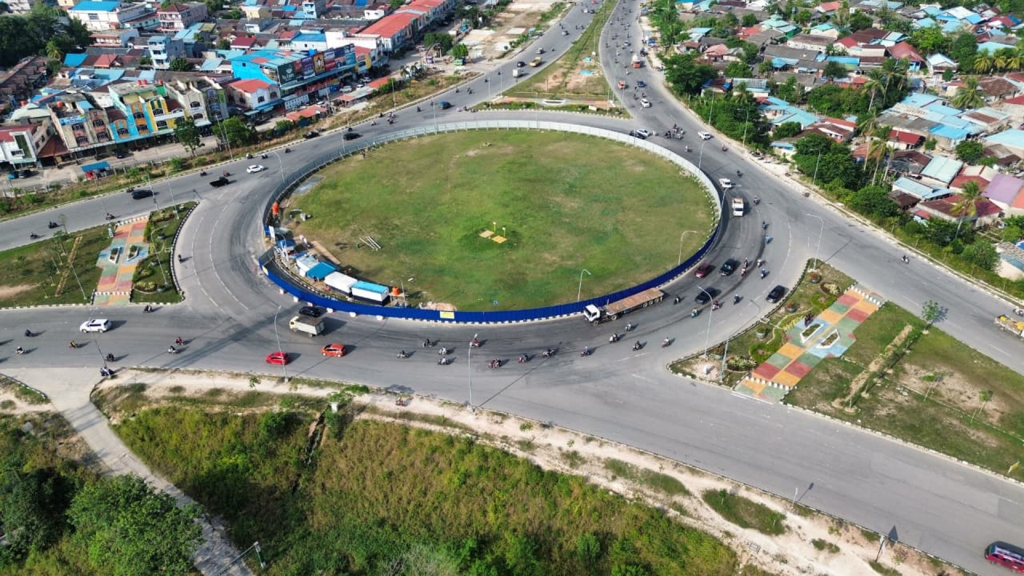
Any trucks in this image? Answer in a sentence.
Yes, there's a truck here.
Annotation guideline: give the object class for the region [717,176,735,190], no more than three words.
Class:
vehicle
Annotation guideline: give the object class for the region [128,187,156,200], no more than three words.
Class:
vehicle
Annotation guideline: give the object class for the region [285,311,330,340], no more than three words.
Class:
truck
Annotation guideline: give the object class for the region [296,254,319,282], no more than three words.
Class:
shed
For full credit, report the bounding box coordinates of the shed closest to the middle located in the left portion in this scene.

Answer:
[351,279,390,306]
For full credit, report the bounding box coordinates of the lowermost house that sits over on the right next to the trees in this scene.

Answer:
[994,241,1024,285]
